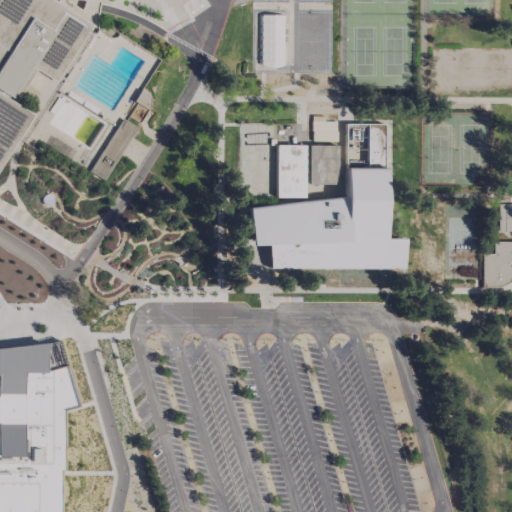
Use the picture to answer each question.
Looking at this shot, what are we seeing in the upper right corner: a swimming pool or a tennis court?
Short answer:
tennis court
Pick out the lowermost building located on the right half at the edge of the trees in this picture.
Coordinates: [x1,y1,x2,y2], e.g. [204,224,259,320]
[483,242,512,288]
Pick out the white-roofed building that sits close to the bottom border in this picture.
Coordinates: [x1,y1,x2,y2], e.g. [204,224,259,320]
[0,342,80,512]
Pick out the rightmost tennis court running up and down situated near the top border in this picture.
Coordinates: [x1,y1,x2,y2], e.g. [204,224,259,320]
[380,14,414,86]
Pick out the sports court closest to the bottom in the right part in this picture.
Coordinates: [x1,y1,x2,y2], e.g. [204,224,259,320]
[446,204,479,277]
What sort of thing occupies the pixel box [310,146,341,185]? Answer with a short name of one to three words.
building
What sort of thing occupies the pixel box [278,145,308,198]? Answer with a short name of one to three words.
building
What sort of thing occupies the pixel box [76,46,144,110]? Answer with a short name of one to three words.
swimming pool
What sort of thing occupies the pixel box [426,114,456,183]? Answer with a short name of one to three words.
tennis court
